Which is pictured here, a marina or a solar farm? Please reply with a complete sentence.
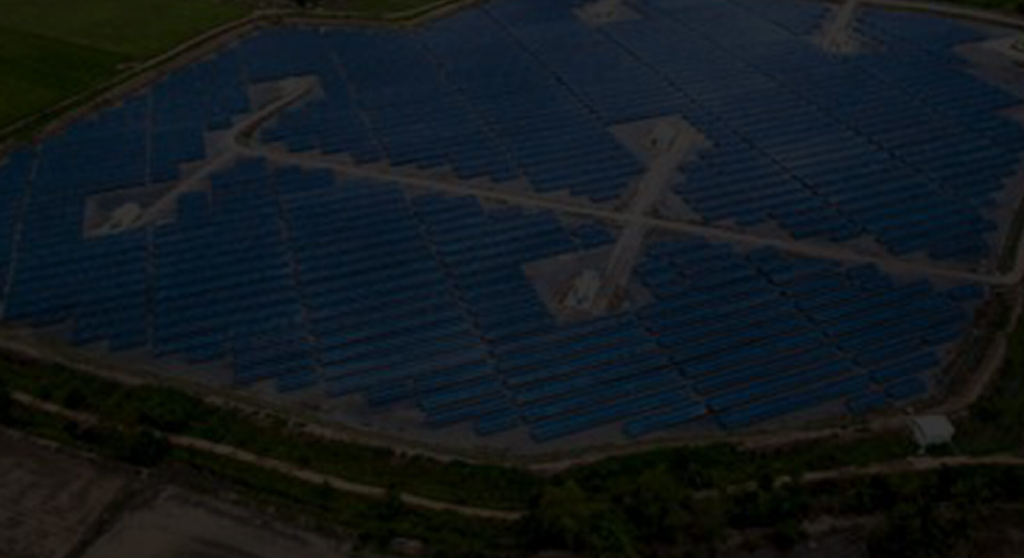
This looks like a solar farm.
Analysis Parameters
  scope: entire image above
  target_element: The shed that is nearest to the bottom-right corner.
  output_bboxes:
[912,412,952,446]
